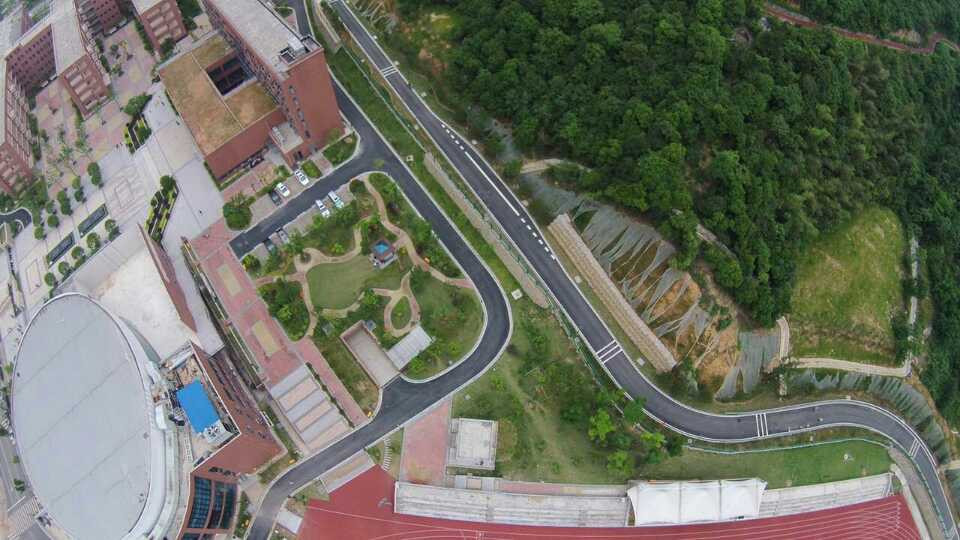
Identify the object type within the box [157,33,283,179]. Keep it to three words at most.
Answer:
building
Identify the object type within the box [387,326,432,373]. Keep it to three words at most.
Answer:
shed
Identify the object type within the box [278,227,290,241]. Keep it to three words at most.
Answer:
vehicle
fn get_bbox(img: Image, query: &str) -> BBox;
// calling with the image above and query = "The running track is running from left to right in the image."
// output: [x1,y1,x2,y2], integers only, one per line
[301,465,920,540]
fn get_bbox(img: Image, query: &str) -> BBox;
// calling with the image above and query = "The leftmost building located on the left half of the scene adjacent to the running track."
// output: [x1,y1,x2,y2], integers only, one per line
[9,291,180,540]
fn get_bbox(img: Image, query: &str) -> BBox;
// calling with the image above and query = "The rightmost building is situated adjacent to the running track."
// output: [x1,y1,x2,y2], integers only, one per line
[446,416,500,490]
